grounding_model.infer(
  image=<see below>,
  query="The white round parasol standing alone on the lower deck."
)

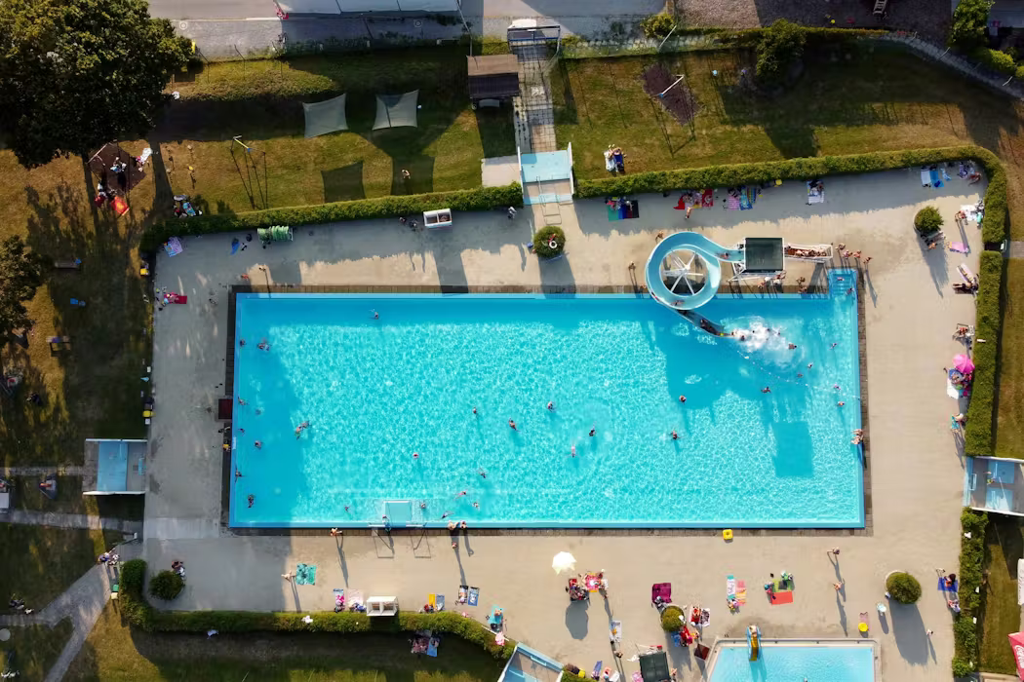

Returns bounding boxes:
[551,549,577,575]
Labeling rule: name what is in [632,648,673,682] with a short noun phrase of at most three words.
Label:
building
